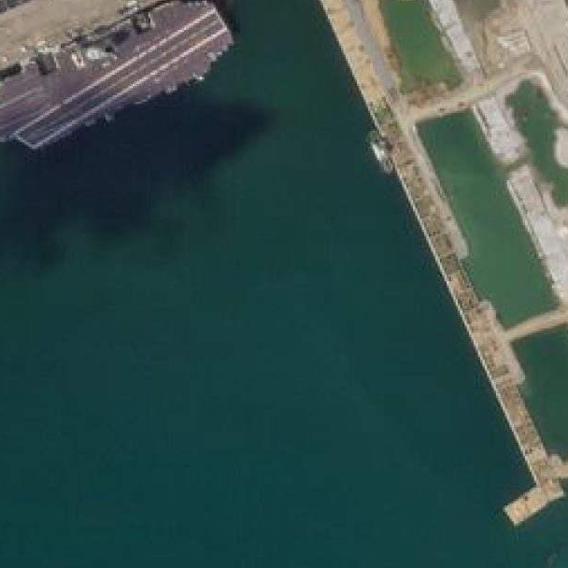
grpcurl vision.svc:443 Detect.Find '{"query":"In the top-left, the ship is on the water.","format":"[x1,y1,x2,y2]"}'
[0,0,236,151]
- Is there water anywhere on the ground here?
Yes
